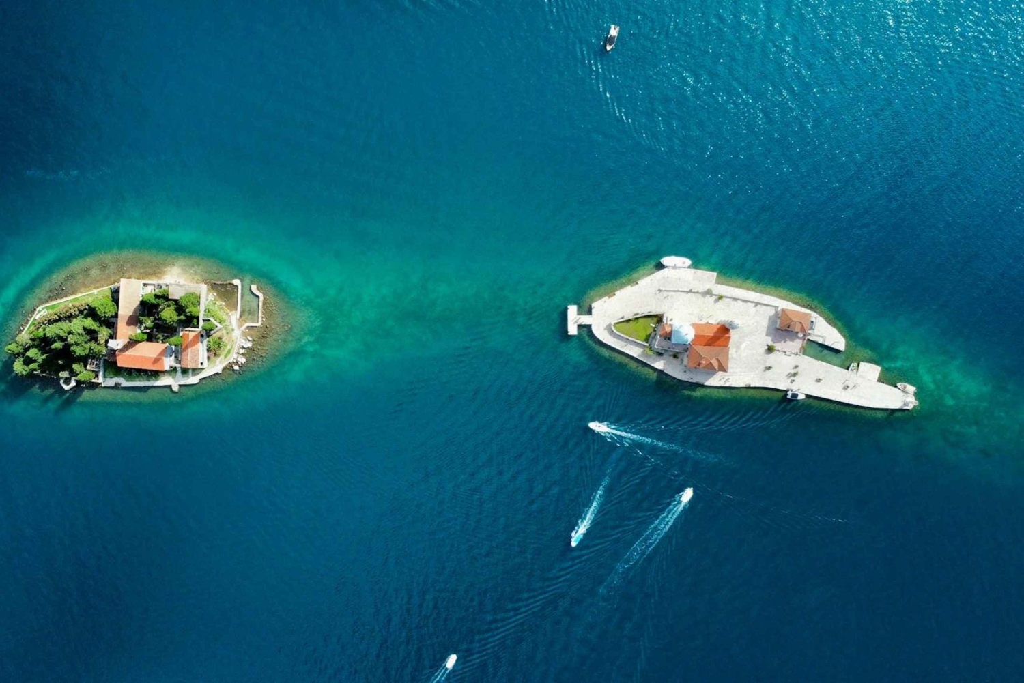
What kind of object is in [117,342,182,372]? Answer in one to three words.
building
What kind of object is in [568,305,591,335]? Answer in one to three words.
pier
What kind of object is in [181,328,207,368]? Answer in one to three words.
house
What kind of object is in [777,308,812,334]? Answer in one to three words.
house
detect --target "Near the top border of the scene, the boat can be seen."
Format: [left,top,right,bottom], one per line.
[606,24,618,52]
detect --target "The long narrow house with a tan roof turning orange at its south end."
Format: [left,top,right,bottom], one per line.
[115,279,145,340]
